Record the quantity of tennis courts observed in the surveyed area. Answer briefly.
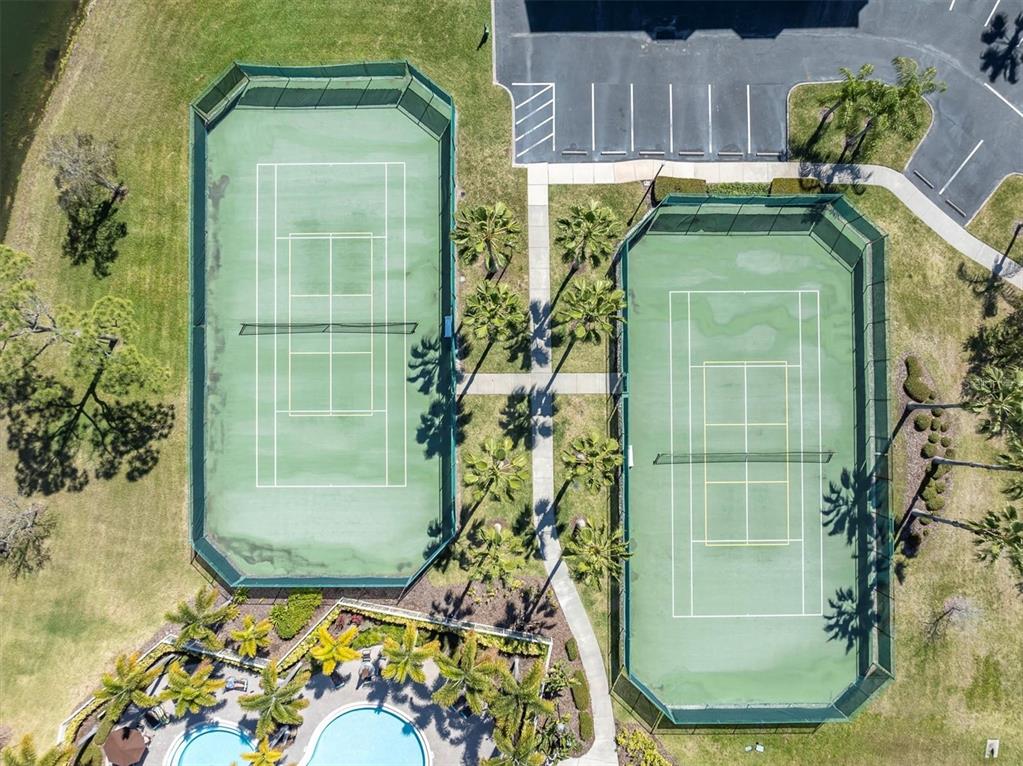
2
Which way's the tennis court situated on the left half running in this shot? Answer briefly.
up and down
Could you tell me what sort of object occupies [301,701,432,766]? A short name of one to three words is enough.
swimming pool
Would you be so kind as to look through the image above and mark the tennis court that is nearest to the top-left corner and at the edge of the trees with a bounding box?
[201,75,461,579]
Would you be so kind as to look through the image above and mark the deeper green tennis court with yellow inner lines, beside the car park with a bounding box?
[618,200,876,709]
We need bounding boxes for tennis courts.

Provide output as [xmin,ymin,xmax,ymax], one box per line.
[618,200,876,709]
[201,75,461,579]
